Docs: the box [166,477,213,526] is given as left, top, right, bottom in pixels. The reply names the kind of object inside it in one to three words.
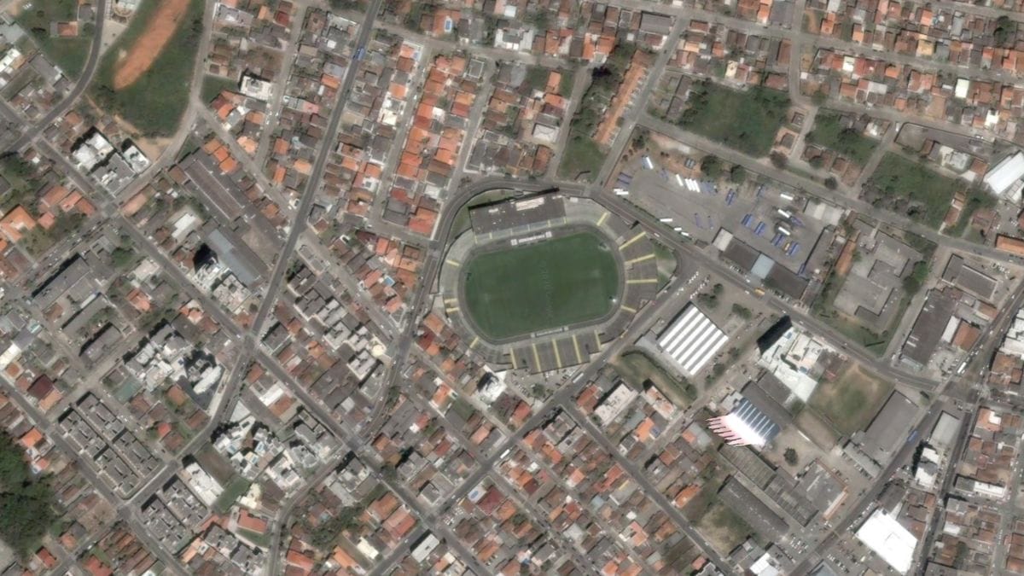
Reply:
building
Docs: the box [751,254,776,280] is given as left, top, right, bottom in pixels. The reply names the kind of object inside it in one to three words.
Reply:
shed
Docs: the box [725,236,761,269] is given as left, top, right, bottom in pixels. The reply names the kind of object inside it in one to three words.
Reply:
shed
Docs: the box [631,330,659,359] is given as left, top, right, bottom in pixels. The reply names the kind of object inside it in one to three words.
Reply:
house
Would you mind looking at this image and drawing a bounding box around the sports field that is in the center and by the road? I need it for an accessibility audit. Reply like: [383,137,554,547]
[464,228,620,339]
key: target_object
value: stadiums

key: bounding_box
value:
[425,186,671,376]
